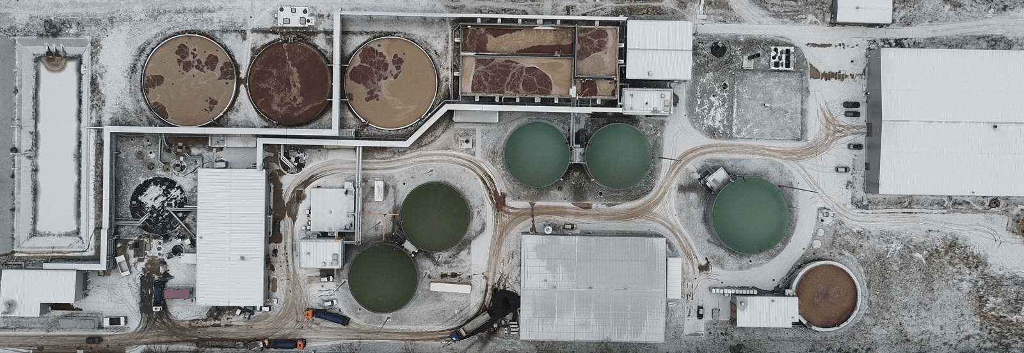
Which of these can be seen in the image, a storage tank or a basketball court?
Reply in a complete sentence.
Of the two, only a storage tank appears.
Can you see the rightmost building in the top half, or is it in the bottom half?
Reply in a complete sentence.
Seen from above, the rightmost building lies in the top half of the view.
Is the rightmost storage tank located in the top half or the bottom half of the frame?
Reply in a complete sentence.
Seen from above, the rightmost storage tank lies in the bottom half of the view.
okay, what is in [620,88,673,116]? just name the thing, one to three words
building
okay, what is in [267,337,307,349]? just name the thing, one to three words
vehicle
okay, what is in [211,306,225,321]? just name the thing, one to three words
car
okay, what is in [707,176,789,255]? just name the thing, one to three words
storage tank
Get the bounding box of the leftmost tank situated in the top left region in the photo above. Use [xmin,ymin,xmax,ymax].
[142,32,241,128]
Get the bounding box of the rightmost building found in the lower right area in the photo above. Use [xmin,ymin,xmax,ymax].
[731,294,799,328]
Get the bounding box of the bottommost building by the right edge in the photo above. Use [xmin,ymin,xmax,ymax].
[867,49,1024,194]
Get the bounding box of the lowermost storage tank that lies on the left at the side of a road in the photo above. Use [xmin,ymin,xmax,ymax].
[347,239,422,314]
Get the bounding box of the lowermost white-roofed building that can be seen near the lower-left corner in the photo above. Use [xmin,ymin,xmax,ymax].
[0,268,88,317]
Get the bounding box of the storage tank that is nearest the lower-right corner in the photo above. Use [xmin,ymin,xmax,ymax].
[787,259,862,331]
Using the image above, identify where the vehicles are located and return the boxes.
[696,305,704,320]
[451,311,494,342]
[842,100,860,109]
[260,306,271,312]
[844,110,860,118]
[242,307,253,322]
[306,307,350,326]
[561,222,577,230]
[245,336,272,352]
[321,275,335,283]
[323,299,337,307]
[267,337,307,349]
[847,143,863,150]
[711,307,719,320]
[86,336,103,345]
[211,306,225,321]
[232,306,244,318]
[152,284,167,312]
